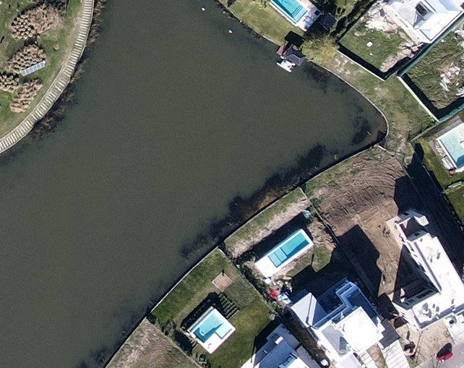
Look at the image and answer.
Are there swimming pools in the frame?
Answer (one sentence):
Yes, a swimming pool appears in the view.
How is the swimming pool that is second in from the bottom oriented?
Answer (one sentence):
The swimming pool that is second in from the bottom is oriented on a diagonal.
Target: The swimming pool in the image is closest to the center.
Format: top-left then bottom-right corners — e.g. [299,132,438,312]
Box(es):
[254,229,313,278]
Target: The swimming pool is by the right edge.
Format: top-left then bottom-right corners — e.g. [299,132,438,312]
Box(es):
[428,116,464,173]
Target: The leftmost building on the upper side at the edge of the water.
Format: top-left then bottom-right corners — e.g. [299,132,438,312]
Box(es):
[277,45,307,67]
